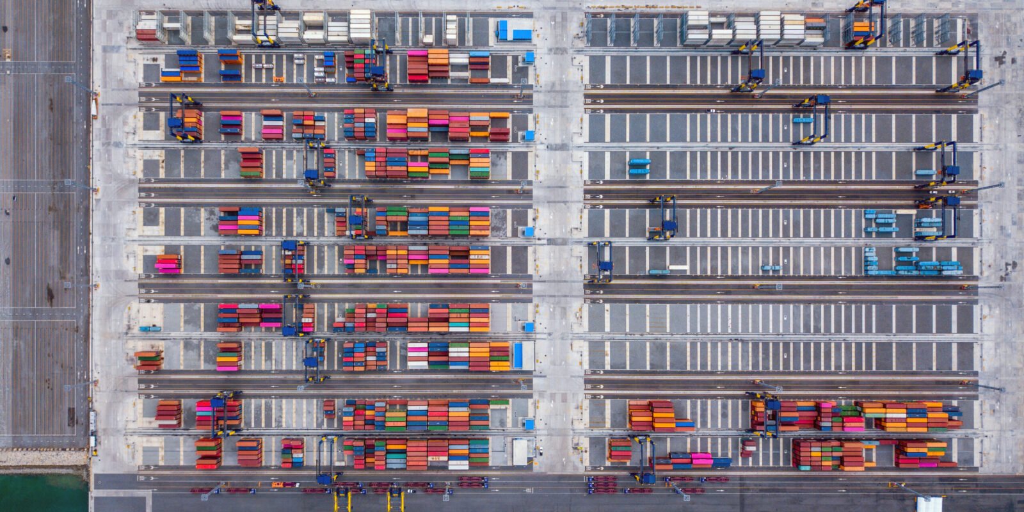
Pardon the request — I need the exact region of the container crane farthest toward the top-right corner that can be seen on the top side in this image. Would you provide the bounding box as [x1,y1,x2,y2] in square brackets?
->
[936,40,983,92]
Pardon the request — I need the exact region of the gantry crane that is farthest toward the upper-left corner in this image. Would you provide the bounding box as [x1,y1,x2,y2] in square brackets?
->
[168,93,204,142]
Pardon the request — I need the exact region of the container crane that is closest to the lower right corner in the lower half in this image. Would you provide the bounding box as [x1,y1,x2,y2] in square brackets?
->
[746,393,782,441]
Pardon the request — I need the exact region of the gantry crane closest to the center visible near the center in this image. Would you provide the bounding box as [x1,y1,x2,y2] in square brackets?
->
[587,240,614,283]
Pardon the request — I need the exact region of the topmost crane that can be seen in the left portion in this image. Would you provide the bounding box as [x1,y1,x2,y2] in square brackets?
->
[251,0,281,46]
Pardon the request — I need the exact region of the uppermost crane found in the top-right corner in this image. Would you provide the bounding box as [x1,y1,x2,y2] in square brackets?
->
[846,0,887,48]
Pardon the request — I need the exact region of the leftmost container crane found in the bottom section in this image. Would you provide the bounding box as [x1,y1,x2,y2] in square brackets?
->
[208,391,241,439]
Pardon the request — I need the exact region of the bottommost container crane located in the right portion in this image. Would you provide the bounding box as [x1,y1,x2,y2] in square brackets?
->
[627,437,656,487]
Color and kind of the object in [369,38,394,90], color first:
blue container crane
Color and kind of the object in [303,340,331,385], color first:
blue container crane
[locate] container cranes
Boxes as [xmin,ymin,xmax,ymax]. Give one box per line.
[251,0,281,46]
[792,95,831,144]
[369,38,394,90]
[208,391,241,439]
[914,141,960,188]
[846,0,887,48]
[936,40,983,92]
[281,295,310,339]
[281,239,311,282]
[316,436,343,486]
[305,139,333,186]
[647,196,678,240]
[627,437,656,487]
[731,39,766,91]
[587,240,614,283]
[914,196,960,241]
[168,93,204,142]
[303,340,331,385]
[746,393,782,441]
[348,195,374,239]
